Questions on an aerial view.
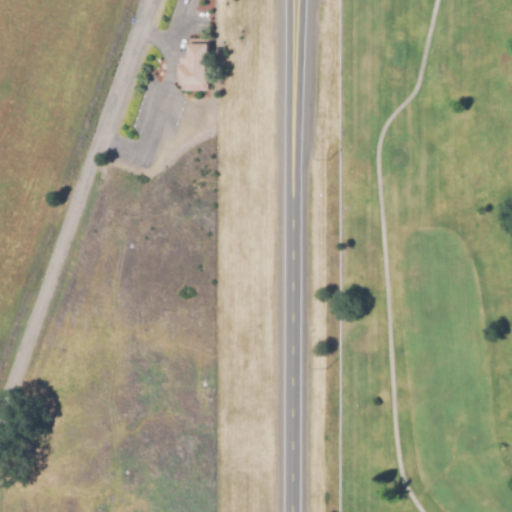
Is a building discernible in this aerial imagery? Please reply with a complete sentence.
Yes, a building is visible in the scene.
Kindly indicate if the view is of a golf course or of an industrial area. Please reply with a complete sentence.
This looks like a golf course.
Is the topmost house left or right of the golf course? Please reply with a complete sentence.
The topmost house appears to the left of the golf course in this view.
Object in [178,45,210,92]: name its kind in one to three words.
house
